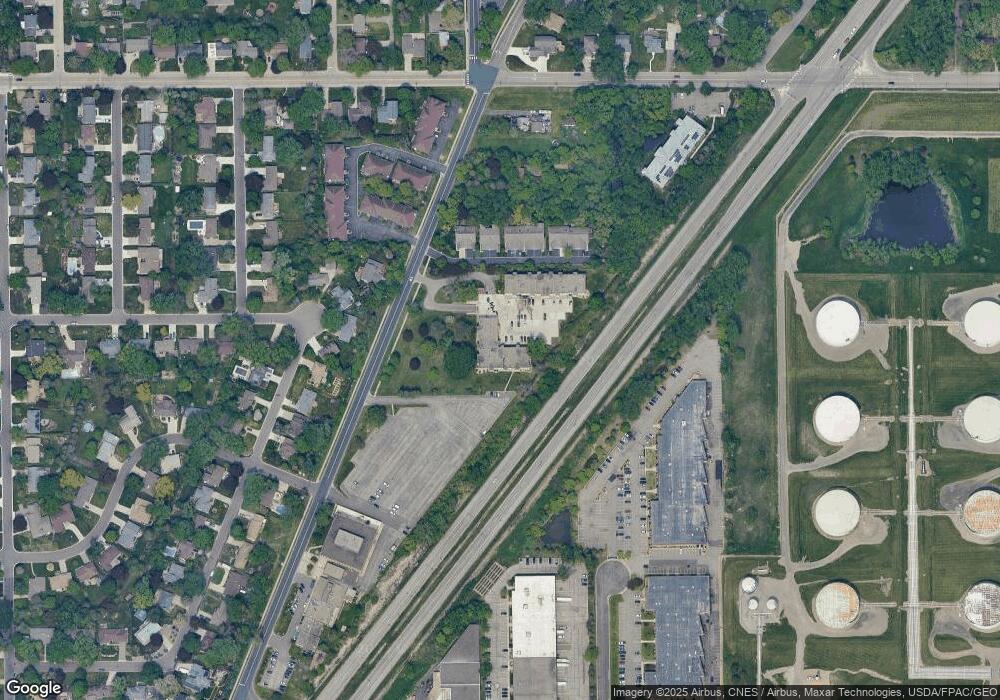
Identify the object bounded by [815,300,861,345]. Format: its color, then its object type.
white storage tank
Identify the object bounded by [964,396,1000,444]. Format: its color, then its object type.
white storage tank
